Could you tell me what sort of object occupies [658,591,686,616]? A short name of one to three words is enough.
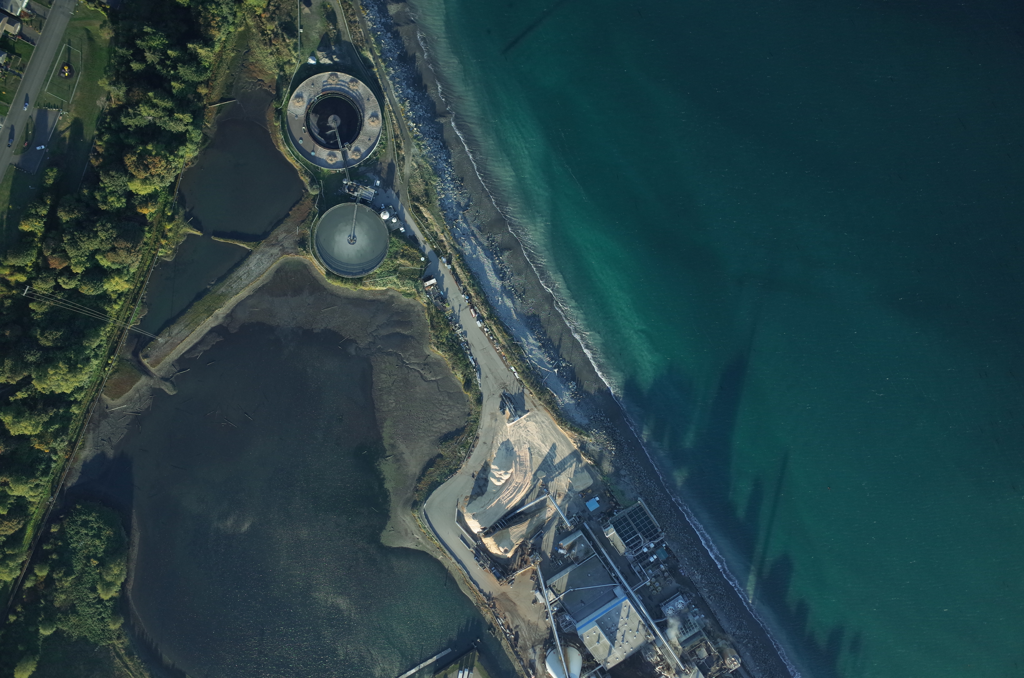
cooling tower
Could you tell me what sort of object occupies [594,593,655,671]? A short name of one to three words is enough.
building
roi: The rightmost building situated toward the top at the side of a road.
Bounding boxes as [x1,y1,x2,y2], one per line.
[345,182,376,202]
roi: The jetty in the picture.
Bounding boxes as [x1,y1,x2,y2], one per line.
[391,645,452,678]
